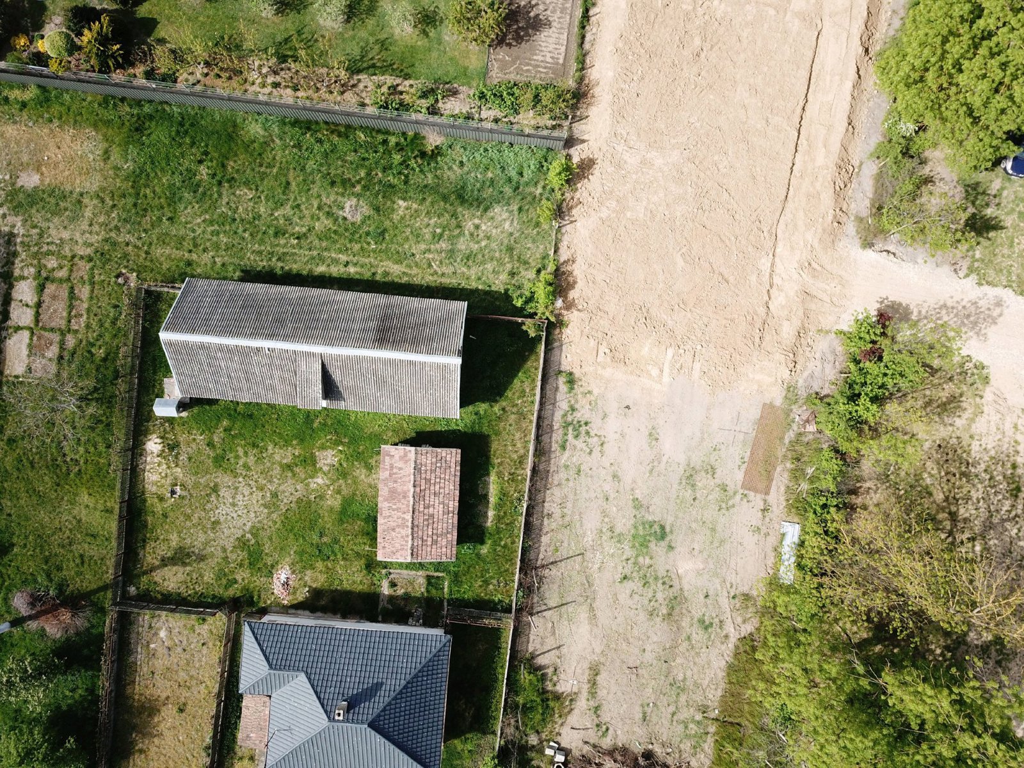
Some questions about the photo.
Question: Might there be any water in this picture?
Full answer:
No, no water is visible.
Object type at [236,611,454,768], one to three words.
house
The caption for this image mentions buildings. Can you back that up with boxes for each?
[365,444,461,564]
[236,611,454,768]
[156,276,469,420]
